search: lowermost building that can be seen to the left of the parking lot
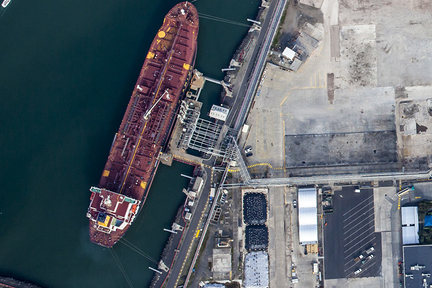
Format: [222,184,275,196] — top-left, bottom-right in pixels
[213,249,231,280]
